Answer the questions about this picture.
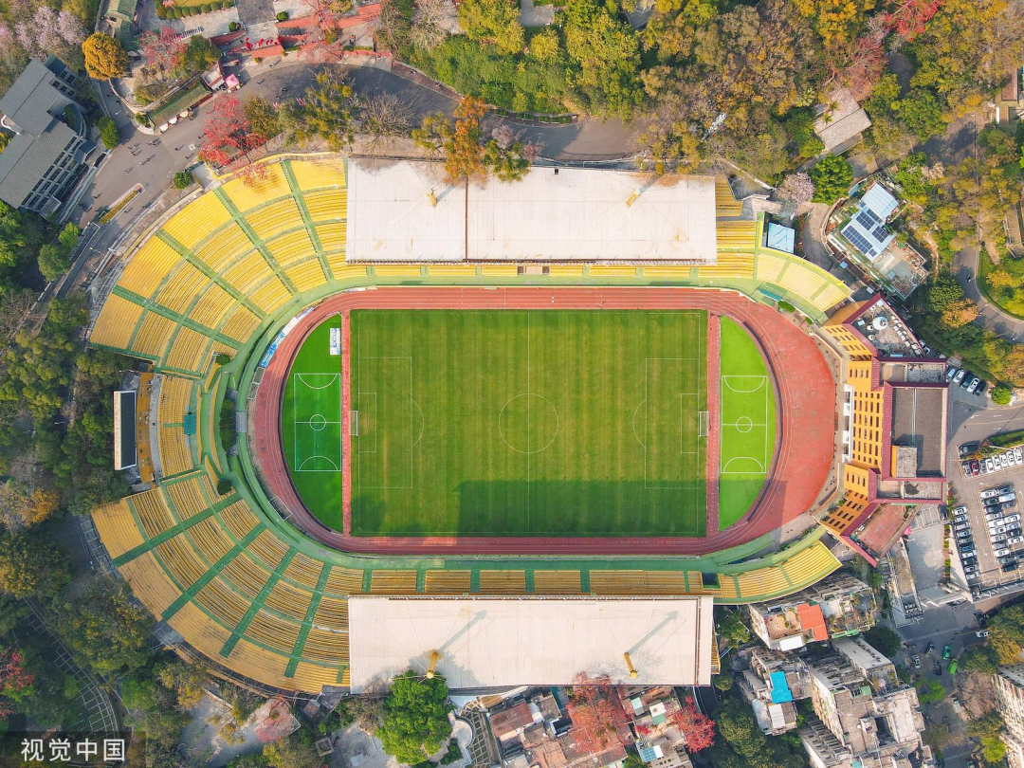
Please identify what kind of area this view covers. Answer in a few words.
sports ground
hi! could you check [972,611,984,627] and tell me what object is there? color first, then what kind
black vehicle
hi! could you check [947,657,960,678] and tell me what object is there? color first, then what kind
green vehicle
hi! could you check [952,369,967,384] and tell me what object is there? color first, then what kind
white car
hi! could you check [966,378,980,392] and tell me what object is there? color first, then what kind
white car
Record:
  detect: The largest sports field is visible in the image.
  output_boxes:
[350,309,707,537]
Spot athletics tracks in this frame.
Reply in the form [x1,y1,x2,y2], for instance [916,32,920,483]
[255,289,836,555]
